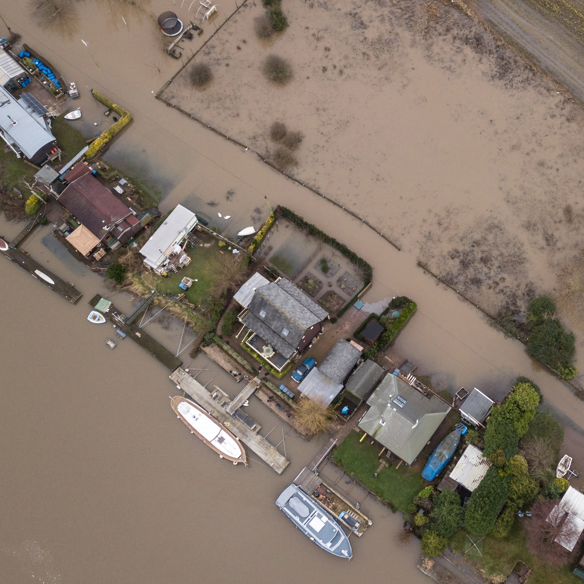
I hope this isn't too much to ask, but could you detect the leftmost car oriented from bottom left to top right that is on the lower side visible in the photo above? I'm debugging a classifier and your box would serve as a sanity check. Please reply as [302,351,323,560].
[292,357,316,382]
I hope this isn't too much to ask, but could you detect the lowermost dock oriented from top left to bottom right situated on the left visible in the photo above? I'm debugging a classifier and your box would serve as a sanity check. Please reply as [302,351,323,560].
[170,367,290,474]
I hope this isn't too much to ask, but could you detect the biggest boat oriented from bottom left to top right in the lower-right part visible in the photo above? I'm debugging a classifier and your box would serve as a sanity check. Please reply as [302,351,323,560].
[420,430,461,483]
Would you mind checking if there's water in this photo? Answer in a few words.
Yes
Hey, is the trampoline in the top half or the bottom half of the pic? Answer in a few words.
top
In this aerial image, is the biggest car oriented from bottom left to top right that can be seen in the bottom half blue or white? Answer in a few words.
blue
